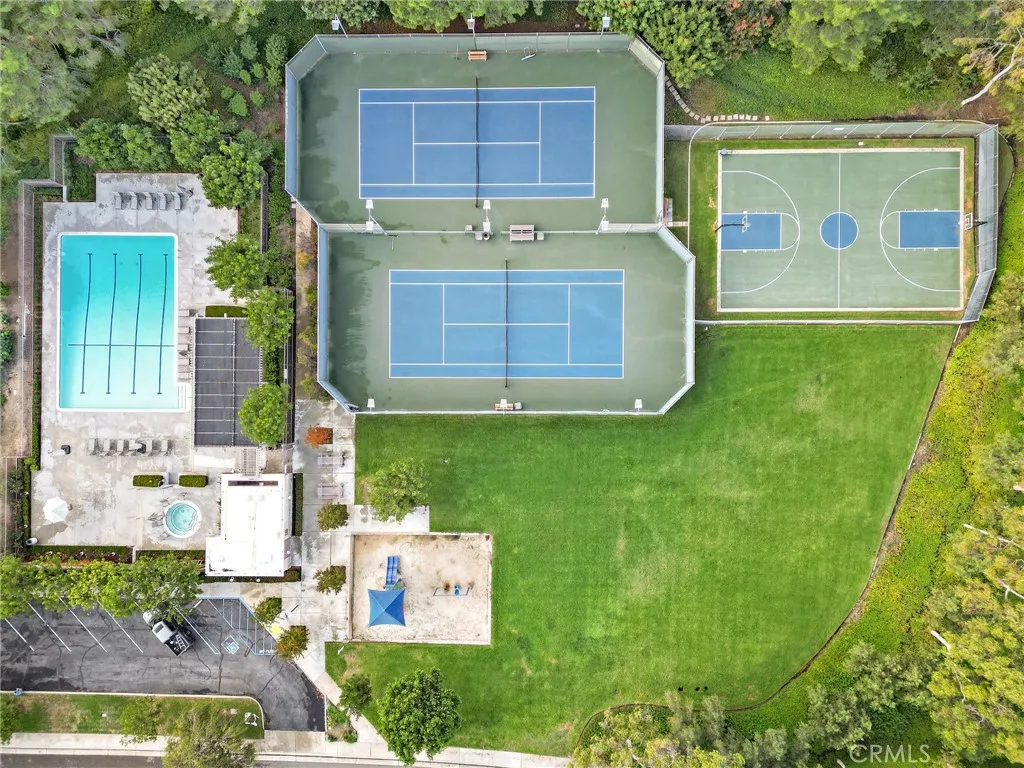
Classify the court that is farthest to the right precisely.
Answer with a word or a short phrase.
basketball court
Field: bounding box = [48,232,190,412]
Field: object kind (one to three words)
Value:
swimming pool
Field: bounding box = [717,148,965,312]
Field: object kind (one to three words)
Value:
basketball court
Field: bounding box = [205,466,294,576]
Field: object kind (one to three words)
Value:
building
